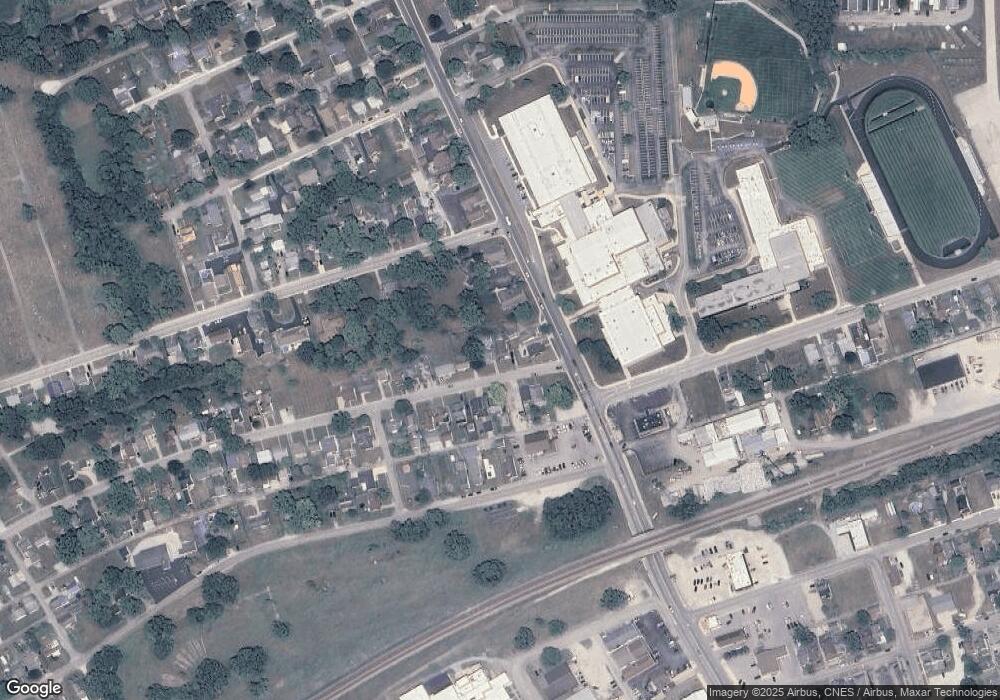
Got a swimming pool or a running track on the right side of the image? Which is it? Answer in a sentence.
What appears on the right side of the image is a running track.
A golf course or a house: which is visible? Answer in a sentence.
The image shows a house.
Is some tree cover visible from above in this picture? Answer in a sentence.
Yes, some tree cover is visible.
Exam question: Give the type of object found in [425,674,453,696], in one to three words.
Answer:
building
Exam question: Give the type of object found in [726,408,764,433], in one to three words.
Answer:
shed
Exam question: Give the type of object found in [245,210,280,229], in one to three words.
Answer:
house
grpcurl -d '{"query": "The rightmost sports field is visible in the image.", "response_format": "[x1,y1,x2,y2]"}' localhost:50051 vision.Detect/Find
[866,85,980,260]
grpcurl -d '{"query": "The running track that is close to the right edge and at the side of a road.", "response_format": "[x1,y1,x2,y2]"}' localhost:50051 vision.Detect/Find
[826,76,998,268]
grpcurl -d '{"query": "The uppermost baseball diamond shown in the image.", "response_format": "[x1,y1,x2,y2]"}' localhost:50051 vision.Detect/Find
[698,3,813,120]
